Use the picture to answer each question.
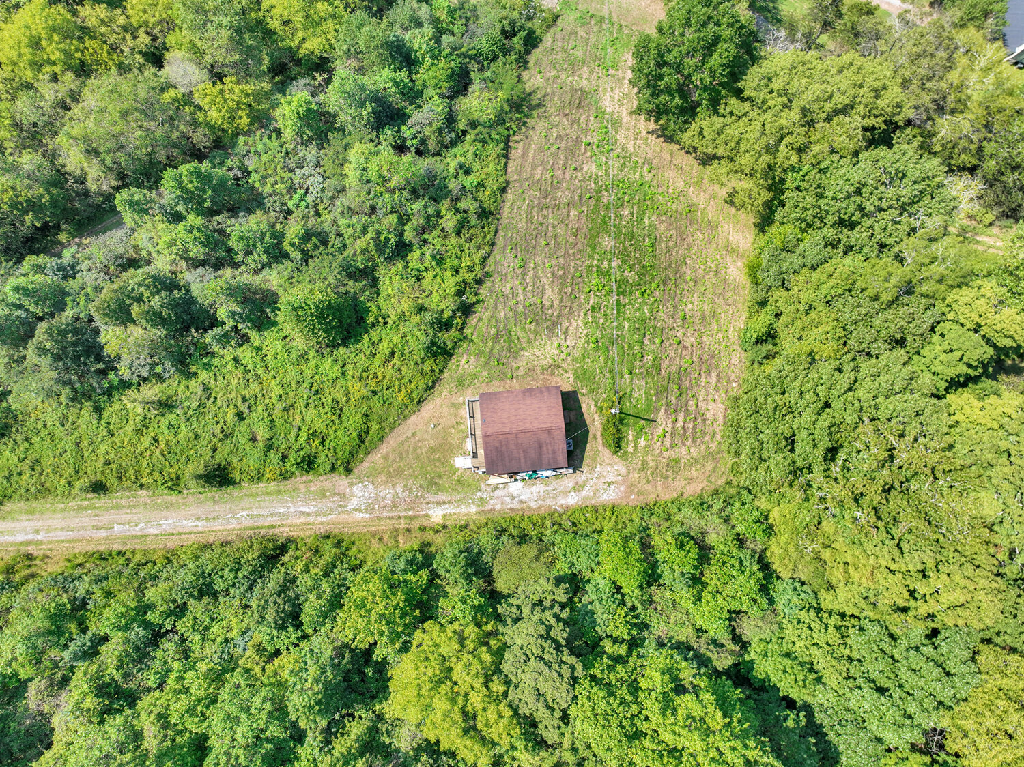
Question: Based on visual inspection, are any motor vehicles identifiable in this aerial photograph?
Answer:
No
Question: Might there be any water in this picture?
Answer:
No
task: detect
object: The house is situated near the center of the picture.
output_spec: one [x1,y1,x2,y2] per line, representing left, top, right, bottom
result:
[455,386,569,475]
